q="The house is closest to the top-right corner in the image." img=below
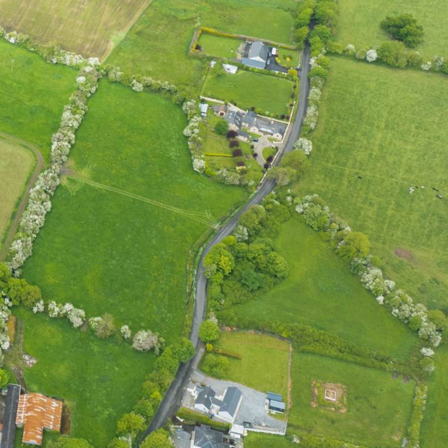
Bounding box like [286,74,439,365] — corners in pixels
[241,42,269,74]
